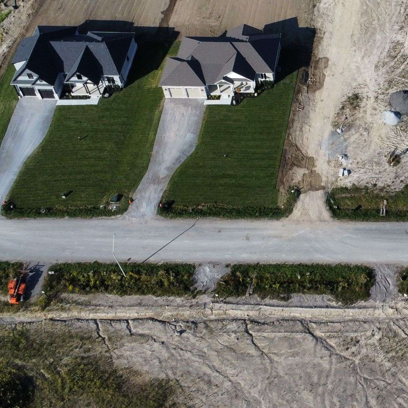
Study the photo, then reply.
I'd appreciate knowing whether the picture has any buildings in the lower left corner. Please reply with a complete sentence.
No, I see no building in the lower left corner.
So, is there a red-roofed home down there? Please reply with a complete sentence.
No, no red-roofed home is visible in the scene.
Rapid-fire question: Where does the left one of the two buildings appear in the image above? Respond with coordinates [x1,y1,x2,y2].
[6,22,138,99]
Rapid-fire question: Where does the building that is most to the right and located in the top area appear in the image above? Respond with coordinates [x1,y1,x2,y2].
[158,23,281,99]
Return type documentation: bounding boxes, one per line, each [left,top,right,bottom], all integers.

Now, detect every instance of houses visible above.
[6,22,138,99]
[158,23,281,99]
